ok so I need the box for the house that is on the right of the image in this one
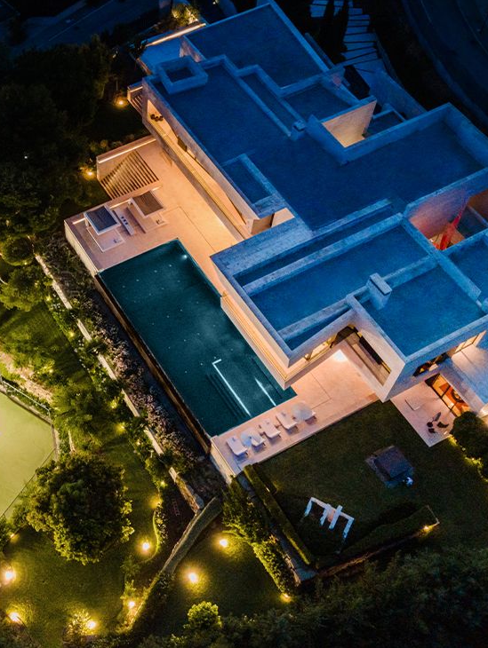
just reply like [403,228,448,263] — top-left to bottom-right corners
[126,0,488,427]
